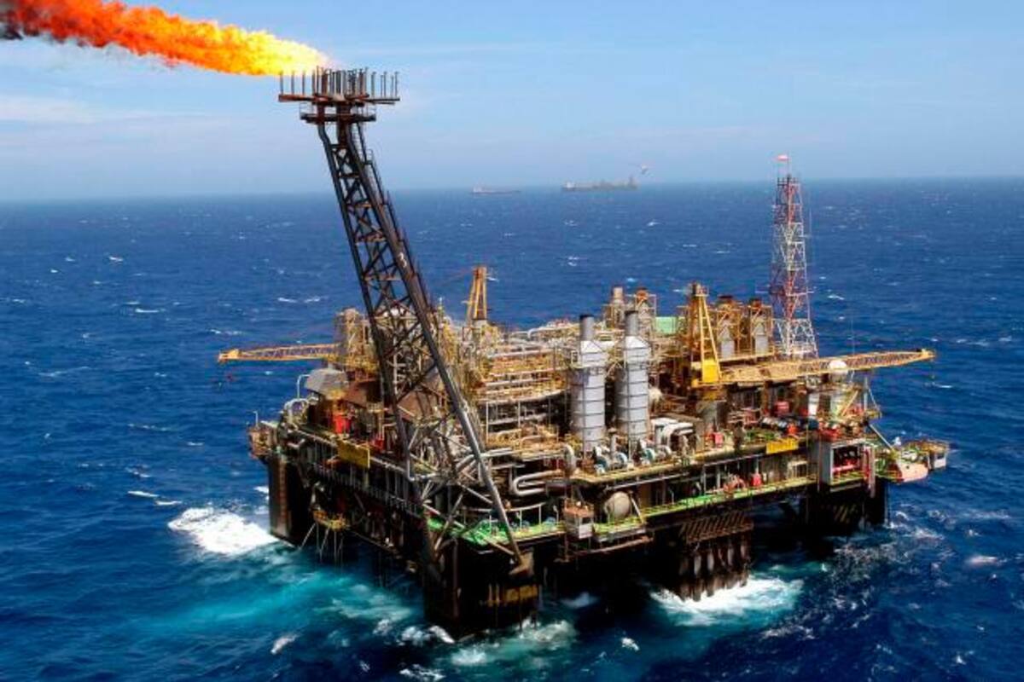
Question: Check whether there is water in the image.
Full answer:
Yes, the picture does contain water.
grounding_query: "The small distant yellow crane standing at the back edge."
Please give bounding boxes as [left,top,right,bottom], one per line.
[382,262,501,357]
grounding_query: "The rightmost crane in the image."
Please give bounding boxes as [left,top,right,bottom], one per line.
[684,283,934,431]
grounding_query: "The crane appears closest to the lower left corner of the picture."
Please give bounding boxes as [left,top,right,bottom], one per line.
[220,306,381,395]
